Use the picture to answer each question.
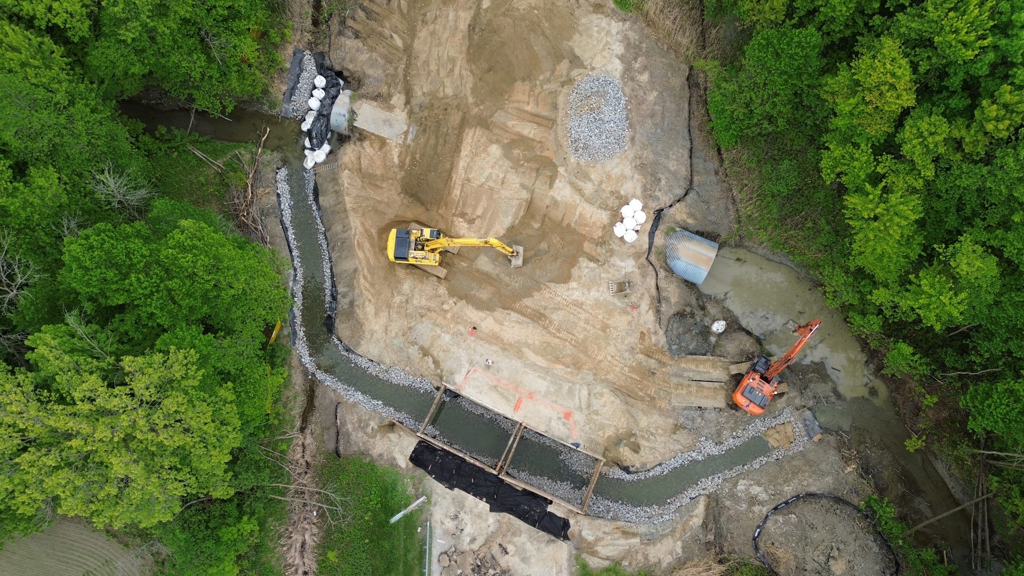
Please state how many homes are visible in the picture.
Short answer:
0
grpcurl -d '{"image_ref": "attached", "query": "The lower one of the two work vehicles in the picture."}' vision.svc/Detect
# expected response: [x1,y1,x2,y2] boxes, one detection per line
[724,317,820,416]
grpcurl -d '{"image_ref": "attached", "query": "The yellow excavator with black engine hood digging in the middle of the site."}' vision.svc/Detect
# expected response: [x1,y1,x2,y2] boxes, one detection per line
[389,225,519,282]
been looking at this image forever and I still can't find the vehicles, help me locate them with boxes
[389,225,519,282]
[724,317,820,416]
